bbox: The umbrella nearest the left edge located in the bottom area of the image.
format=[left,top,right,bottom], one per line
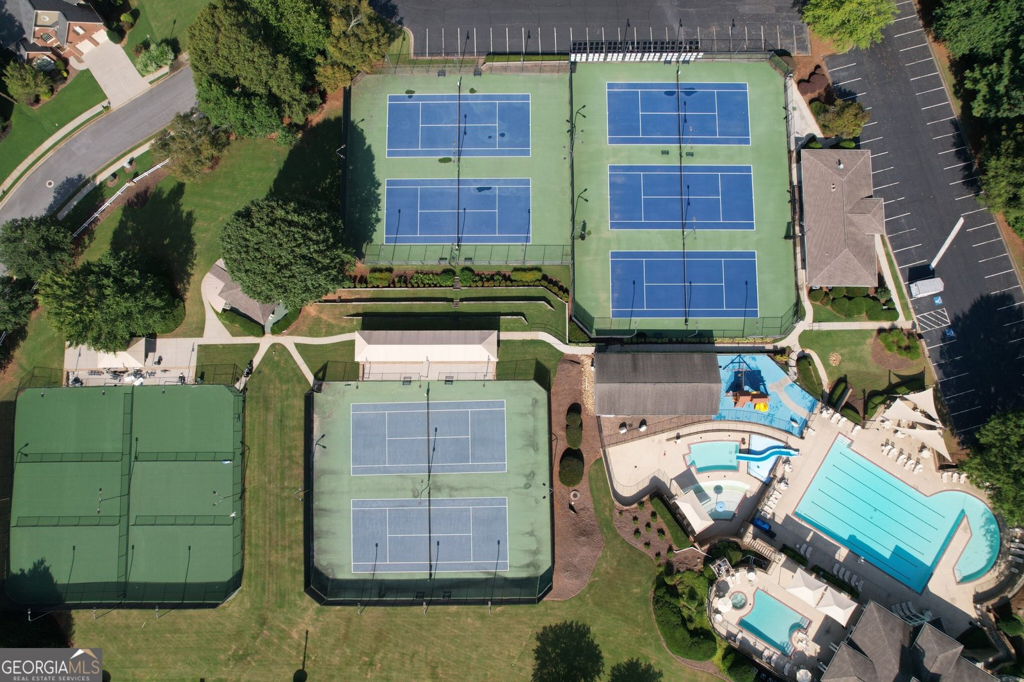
[716,596,733,613]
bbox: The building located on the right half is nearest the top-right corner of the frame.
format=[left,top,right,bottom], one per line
[799,149,885,288]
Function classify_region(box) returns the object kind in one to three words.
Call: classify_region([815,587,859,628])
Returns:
tent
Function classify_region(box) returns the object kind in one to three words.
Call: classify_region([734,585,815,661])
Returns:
swimming pool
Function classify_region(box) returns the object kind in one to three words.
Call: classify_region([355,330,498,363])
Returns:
building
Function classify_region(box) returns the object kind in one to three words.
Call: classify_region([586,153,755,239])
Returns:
tennis court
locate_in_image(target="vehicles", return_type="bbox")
[907,278,947,301]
